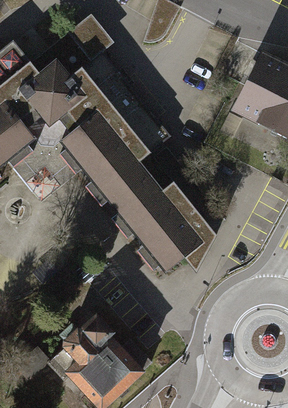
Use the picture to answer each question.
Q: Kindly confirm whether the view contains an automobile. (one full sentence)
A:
Yes, the photo shows an automobile.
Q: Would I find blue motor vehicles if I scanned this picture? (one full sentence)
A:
Yes, there's a blue motor vehicle down there.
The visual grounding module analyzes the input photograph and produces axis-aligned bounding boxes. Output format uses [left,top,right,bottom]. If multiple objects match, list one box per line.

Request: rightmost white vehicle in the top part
[190,62,212,78]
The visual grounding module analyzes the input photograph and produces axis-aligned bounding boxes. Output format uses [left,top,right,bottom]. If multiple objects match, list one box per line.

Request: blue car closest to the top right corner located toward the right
[183,74,206,90]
